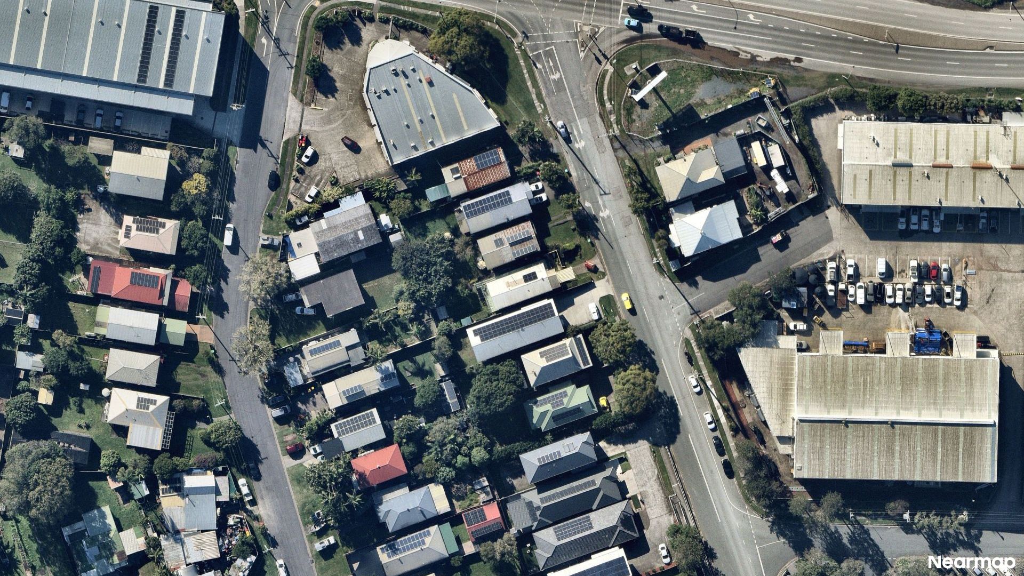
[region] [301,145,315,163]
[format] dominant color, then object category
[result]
white car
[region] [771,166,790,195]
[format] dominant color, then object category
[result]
white vehicle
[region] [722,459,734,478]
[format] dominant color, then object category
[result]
black vehicle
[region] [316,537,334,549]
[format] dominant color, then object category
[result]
white vehicle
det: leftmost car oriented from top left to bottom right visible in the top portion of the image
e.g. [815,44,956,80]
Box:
[340,135,359,151]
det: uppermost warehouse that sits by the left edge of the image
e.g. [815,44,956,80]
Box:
[0,0,225,114]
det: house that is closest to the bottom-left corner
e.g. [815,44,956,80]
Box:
[61,505,128,576]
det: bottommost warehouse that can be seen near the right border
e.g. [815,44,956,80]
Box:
[739,321,1002,488]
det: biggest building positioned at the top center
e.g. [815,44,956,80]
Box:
[362,39,500,164]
